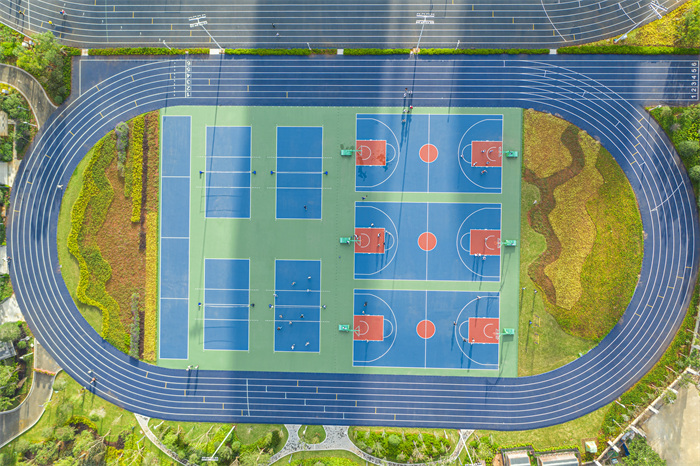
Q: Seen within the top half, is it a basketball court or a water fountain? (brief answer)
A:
basketball court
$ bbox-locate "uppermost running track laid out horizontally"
[0,0,679,49]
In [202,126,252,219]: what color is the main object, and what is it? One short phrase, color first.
blue sports court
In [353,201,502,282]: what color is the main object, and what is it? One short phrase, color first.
blue basketball court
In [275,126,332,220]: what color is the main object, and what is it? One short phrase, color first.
blue sports court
